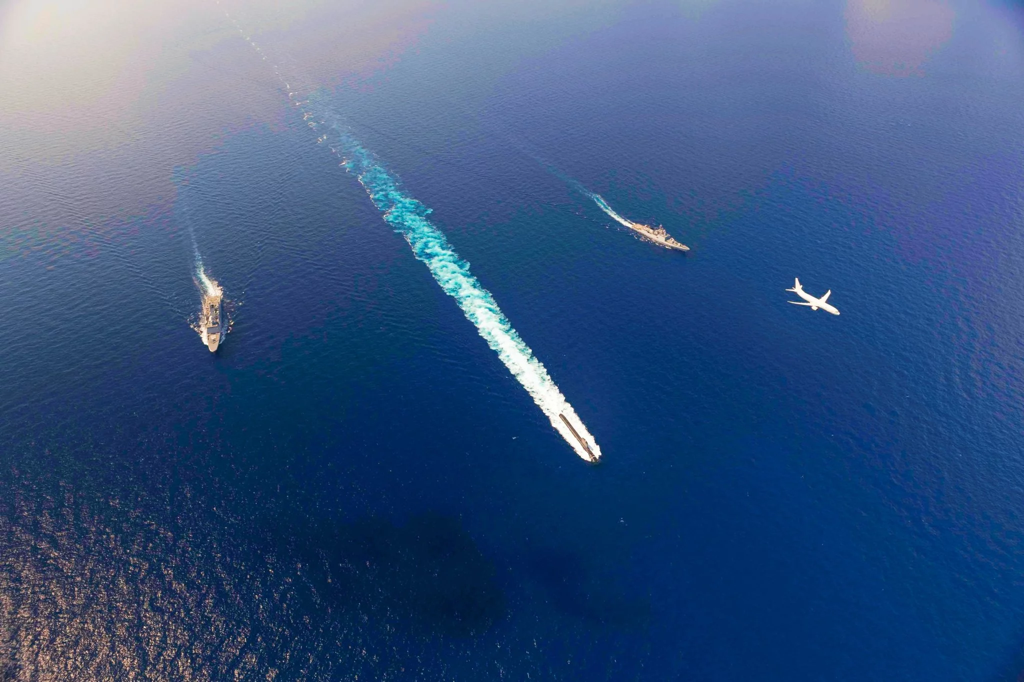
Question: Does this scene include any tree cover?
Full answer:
No, no tree cover is visible.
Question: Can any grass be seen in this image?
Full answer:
No, grass can't be seen anywhere here.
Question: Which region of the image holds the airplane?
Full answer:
The airplane sits in the right section of the image.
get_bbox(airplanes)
[786,278,840,315]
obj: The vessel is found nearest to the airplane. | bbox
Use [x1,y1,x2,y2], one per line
[631,220,690,253]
